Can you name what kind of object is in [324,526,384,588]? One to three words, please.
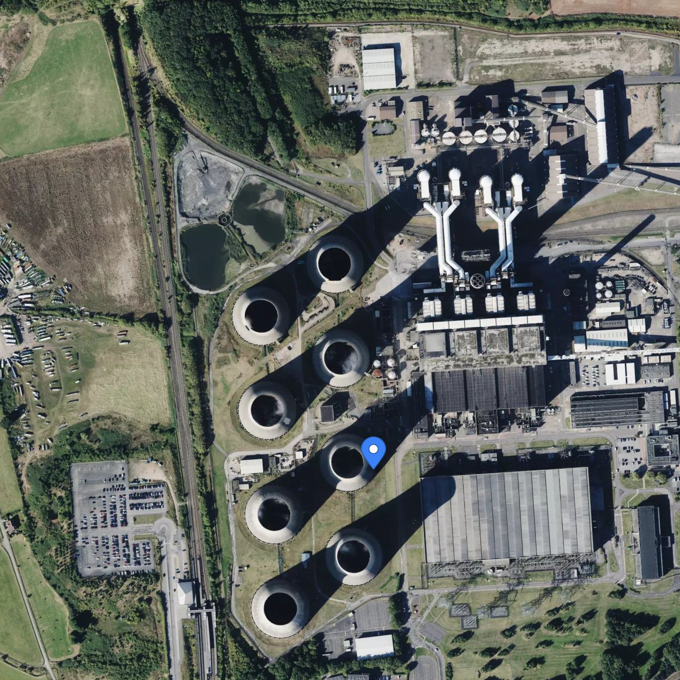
cooling tower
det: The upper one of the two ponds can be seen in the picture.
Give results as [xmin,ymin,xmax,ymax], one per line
[234,183,284,248]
